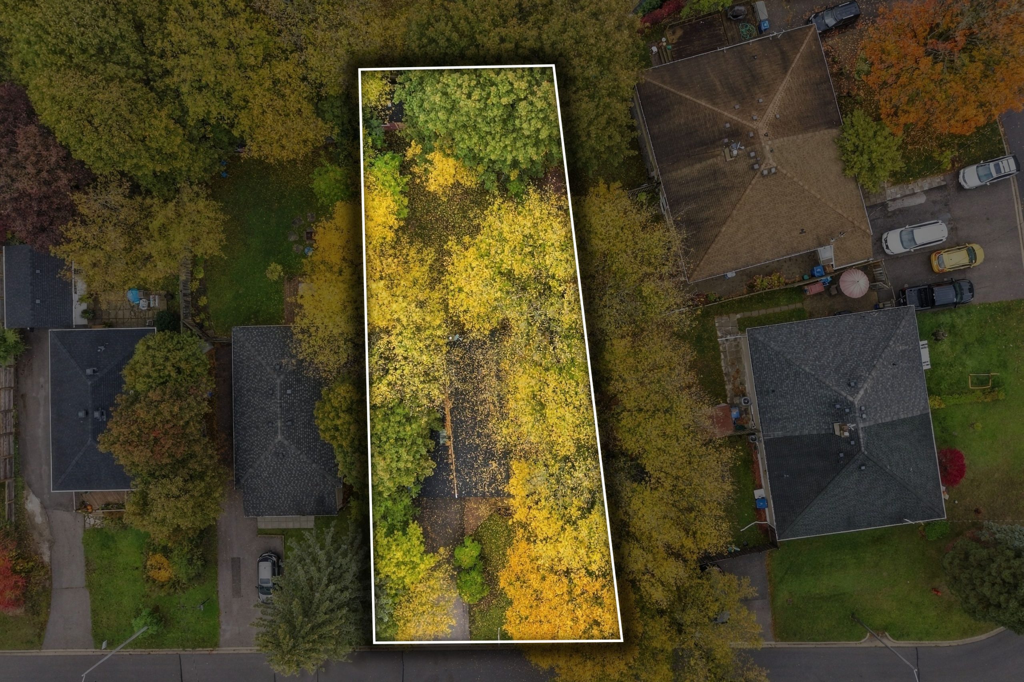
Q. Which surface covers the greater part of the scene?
trees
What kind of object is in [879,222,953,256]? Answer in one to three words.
car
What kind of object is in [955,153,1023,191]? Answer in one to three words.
car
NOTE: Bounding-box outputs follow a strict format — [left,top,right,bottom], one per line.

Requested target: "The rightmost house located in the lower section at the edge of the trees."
[737,303,948,543]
